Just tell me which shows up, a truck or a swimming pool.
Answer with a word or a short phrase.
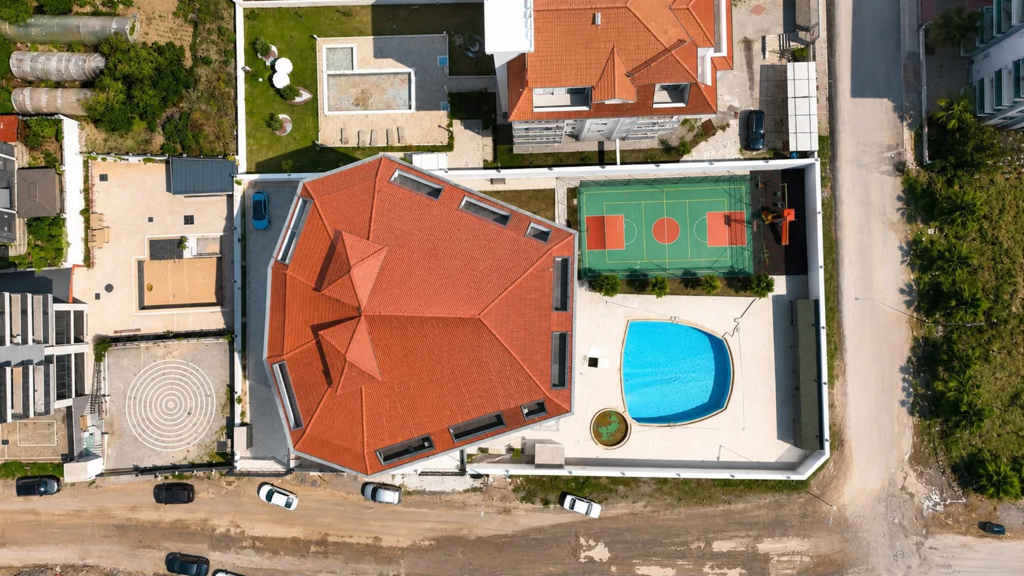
swimming pool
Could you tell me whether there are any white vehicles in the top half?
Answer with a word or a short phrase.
No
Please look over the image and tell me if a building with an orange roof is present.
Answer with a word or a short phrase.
Yes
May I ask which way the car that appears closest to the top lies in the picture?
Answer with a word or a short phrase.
from top to bottom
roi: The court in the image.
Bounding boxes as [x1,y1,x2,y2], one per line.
[580,174,753,279]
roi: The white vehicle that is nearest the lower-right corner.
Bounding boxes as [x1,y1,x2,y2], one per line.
[562,492,602,518]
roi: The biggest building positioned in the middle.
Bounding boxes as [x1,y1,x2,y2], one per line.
[264,154,578,477]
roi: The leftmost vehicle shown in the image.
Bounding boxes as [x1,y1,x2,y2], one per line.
[14,475,64,498]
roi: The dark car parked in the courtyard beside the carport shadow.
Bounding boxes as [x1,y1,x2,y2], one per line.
[745,108,767,152]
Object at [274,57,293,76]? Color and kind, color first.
white umbrella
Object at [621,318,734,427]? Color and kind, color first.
blue swimming pool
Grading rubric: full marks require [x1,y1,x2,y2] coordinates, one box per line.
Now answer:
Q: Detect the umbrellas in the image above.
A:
[272,72,291,89]
[274,57,293,76]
